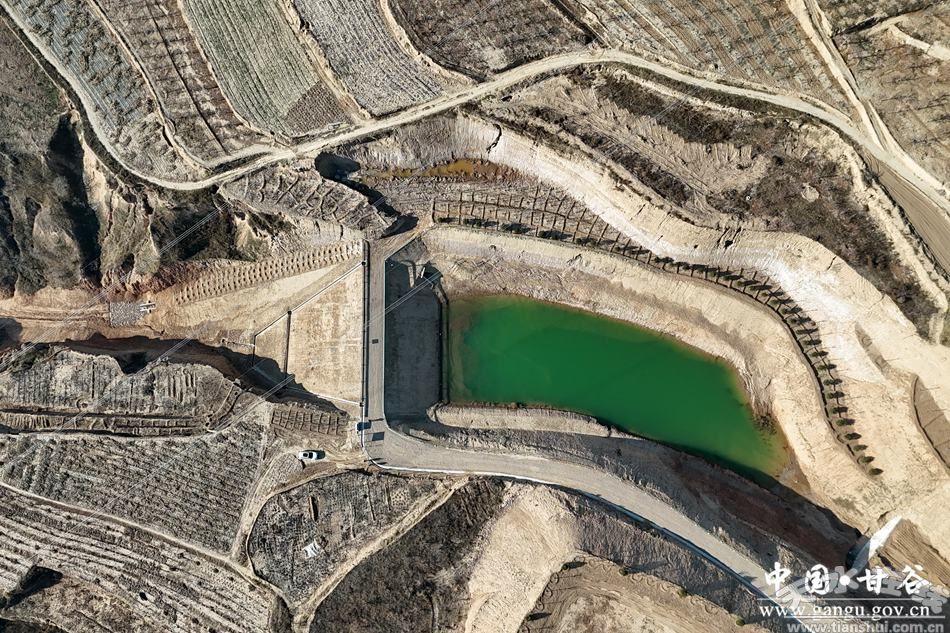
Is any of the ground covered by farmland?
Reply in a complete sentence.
Yes, there's farmland in this view.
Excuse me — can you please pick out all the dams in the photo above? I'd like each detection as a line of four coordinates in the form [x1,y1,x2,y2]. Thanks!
[222,231,447,440]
